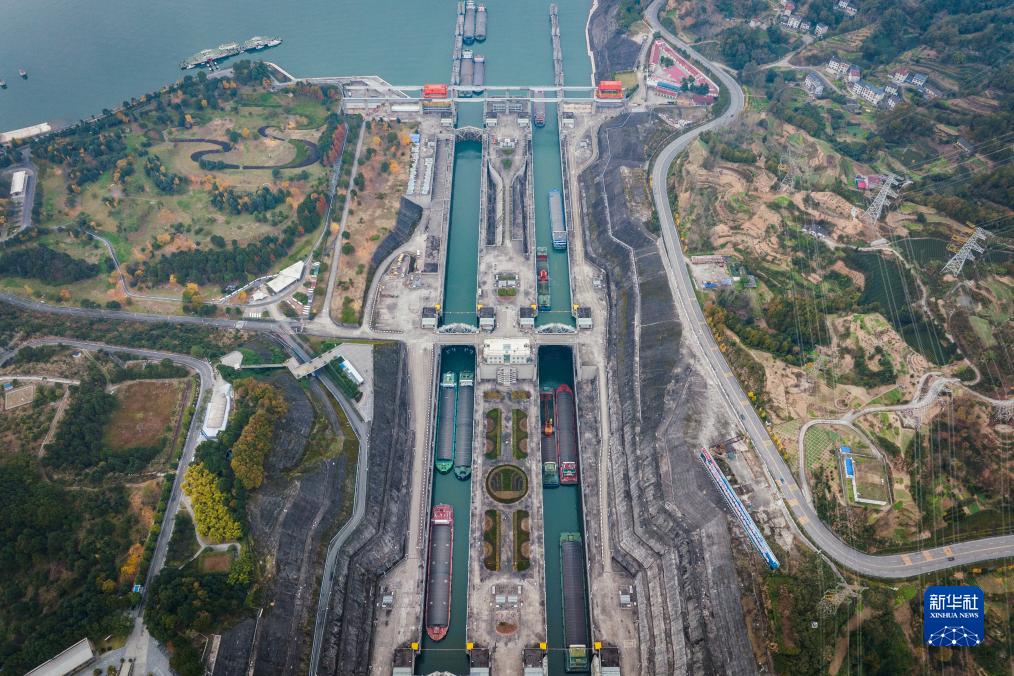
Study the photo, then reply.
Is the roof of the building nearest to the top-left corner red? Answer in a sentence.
No, the color of the roof of the building nearest to the top-left corner is white.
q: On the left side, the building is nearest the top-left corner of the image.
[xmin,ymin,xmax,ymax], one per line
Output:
[5,176,27,200]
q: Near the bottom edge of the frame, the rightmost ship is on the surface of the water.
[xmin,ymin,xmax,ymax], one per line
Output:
[560,531,591,668]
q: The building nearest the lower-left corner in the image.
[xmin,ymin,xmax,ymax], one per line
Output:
[15,634,99,676]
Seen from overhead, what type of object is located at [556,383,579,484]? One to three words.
ship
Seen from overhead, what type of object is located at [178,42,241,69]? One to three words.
pier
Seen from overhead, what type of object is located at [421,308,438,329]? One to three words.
house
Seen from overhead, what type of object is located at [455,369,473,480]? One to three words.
ship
